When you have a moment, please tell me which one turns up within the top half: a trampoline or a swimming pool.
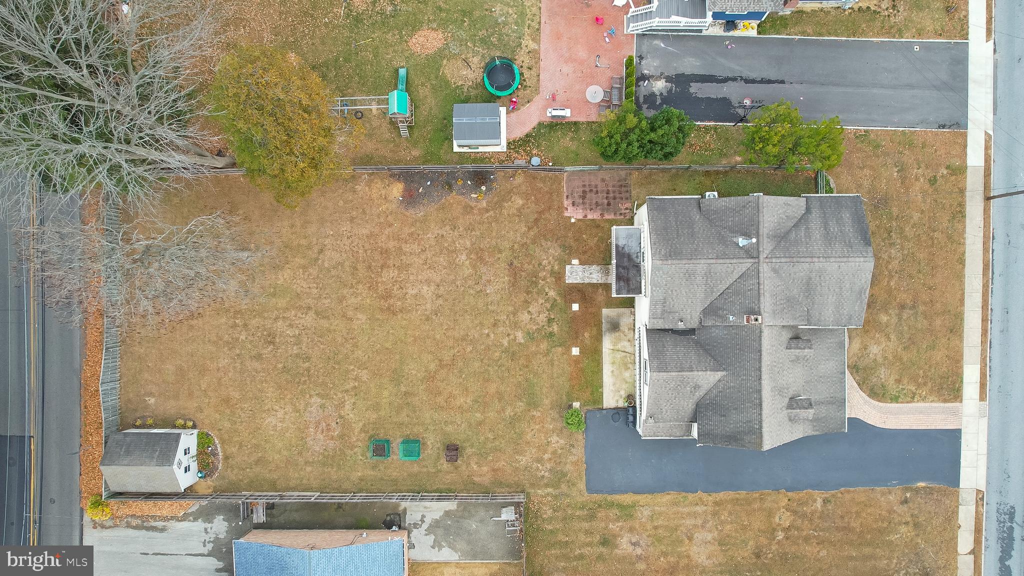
trampoline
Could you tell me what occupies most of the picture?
grass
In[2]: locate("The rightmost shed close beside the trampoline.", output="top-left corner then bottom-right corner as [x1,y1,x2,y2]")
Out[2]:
[452,104,501,144]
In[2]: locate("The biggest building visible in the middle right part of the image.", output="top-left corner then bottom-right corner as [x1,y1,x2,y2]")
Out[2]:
[633,194,892,450]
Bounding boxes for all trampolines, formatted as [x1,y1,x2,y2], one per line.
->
[484,54,520,98]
